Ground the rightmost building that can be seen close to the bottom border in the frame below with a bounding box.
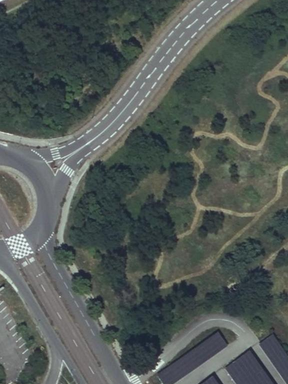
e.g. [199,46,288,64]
[260,333,288,382]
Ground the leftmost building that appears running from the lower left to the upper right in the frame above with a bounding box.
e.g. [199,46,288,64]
[158,330,228,384]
